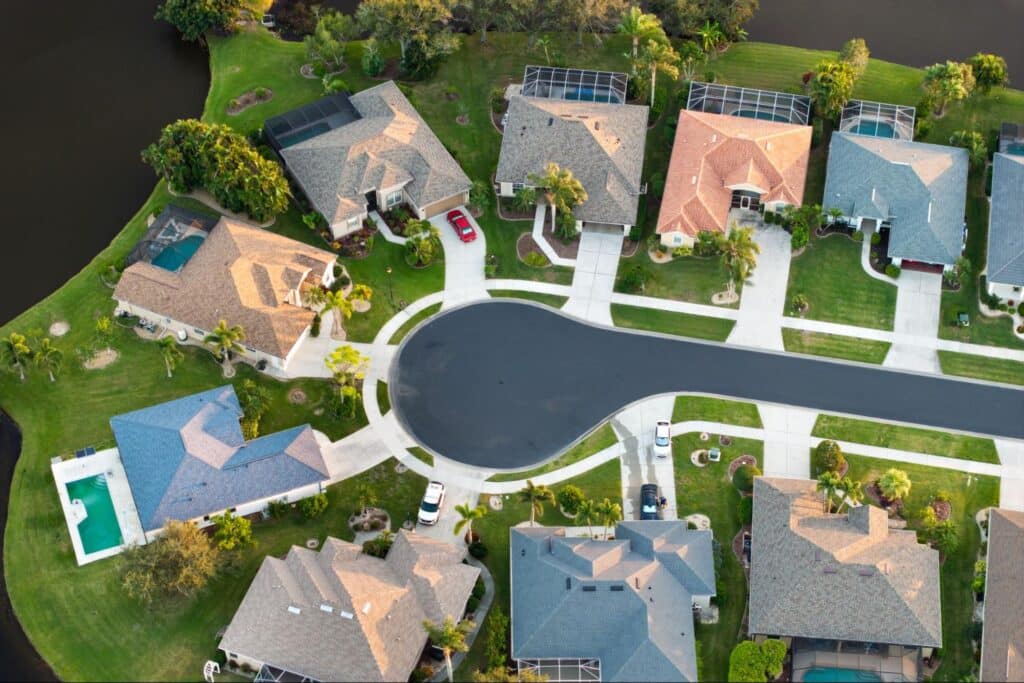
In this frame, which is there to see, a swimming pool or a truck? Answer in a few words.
swimming pool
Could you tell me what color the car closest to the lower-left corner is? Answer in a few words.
white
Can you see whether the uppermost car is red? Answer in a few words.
Yes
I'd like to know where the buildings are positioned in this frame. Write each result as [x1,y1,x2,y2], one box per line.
[822,131,969,274]
[279,80,472,232]
[655,109,813,247]
[510,520,717,683]
[749,475,942,655]
[977,507,1024,683]
[987,153,1024,299]
[112,216,337,366]
[109,384,330,539]
[495,95,650,235]
[218,528,481,683]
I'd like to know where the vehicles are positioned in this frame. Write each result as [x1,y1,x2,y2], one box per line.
[653,424,672,461]
[449,211,475,244]
[420,482,444,526]
[640,487,661,521]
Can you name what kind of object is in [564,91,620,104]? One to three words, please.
swimming pool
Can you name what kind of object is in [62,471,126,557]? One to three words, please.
swimming pool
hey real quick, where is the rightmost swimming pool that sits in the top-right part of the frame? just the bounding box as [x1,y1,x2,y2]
[846,117,899,139]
